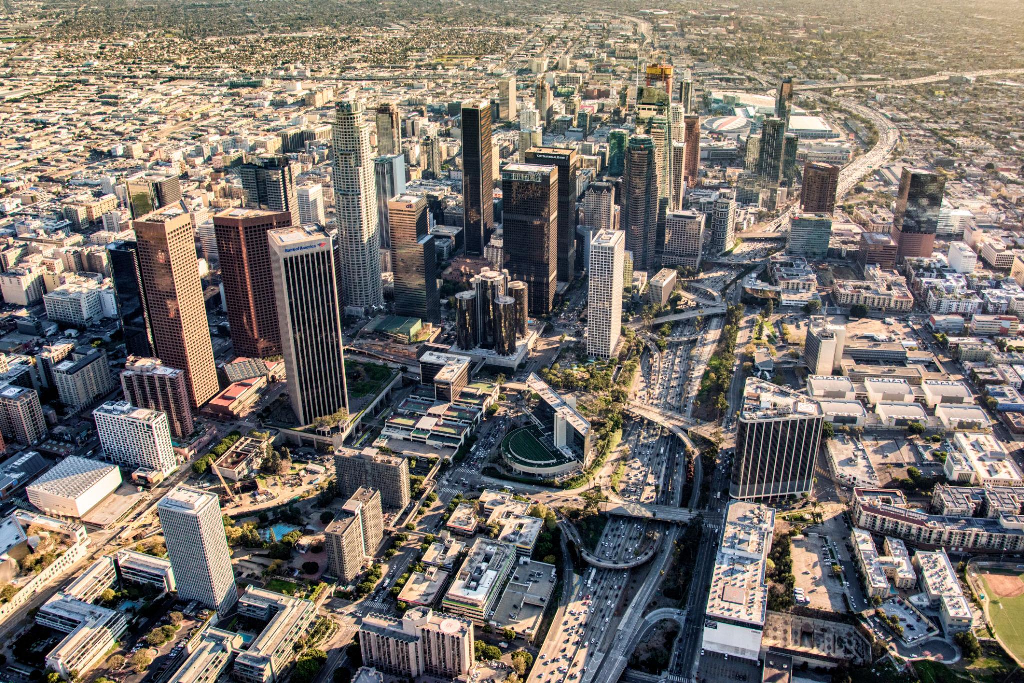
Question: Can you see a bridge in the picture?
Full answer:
Yes, a bridge appears in the view.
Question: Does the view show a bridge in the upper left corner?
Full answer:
No, there's no bridge to be seen in the upper left corner.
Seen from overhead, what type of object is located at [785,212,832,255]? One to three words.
building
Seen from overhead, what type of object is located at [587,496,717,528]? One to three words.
bridge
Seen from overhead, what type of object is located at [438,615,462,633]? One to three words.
helipad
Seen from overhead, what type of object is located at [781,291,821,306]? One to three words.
building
